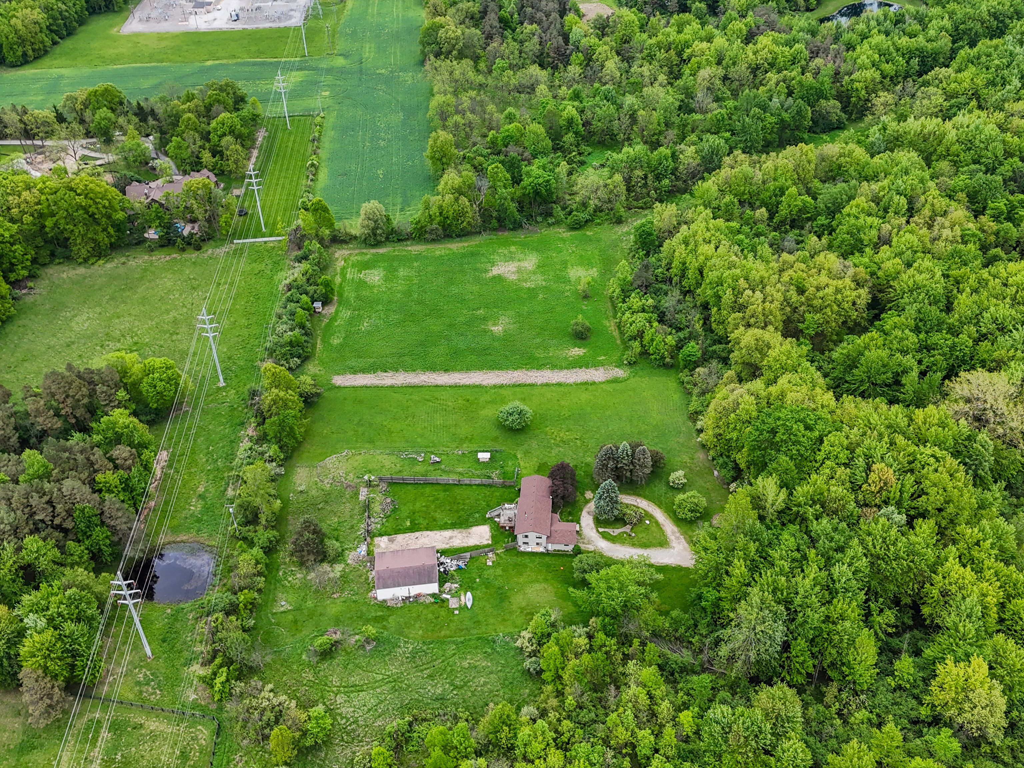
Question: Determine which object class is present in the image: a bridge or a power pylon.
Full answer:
This aerial view contains a power pylon.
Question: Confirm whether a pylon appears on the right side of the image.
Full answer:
No, no pylon is visible on the right side of the image.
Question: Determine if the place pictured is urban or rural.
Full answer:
The area shown here is rural.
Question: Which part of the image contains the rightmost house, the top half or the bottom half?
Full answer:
The rightmost house is in the bottom half of the image.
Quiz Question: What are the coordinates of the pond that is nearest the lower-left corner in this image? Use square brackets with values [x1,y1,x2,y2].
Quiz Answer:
[133,543,216,603]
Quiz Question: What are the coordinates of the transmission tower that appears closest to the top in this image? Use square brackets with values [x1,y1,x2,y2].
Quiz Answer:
[295,4,308,56]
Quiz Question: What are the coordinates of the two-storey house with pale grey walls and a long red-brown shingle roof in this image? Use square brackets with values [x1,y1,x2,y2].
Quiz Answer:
[514,475,576,553]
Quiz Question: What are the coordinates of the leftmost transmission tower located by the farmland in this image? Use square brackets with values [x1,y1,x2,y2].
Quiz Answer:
[110,570,154,661]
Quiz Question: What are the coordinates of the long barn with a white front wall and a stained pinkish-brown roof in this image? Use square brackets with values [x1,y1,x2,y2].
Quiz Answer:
[374,545,439,599]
